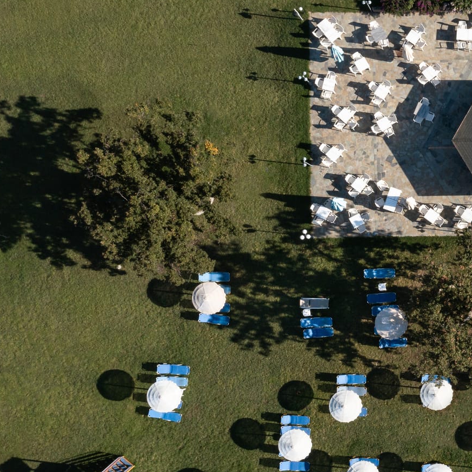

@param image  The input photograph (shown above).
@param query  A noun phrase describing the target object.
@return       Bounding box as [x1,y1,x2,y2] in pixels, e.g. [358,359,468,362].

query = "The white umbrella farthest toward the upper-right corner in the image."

[402,46,415,66]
